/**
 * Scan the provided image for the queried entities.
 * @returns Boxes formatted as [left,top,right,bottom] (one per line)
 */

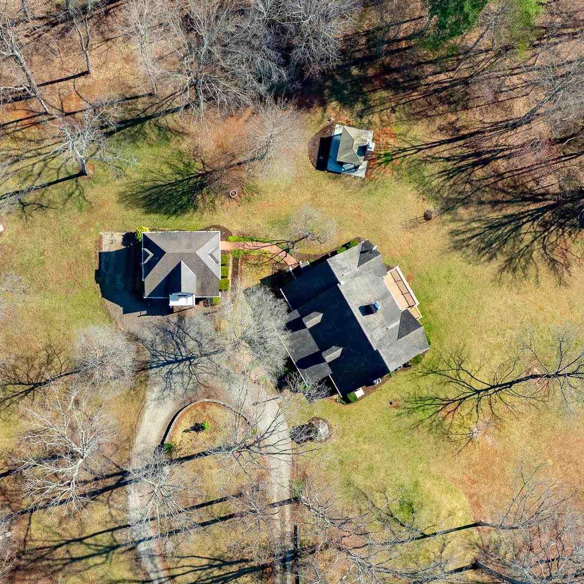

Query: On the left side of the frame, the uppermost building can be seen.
[142,231,221,308]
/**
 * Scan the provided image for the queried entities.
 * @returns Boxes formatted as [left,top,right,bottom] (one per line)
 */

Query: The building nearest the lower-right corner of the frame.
[272,238,430,397]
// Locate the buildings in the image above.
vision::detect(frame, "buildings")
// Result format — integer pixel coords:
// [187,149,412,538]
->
[142,231,221,308]
[272,238,430,397]
[327,124,375,177]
